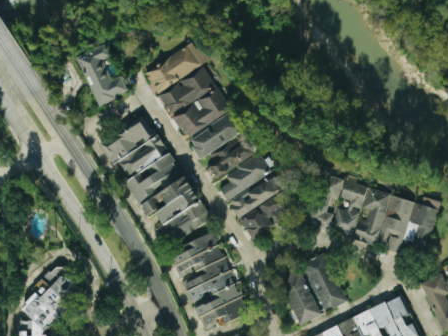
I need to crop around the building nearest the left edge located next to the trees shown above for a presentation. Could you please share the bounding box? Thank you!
[19,267,74,336]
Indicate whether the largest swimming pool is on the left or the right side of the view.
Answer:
left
